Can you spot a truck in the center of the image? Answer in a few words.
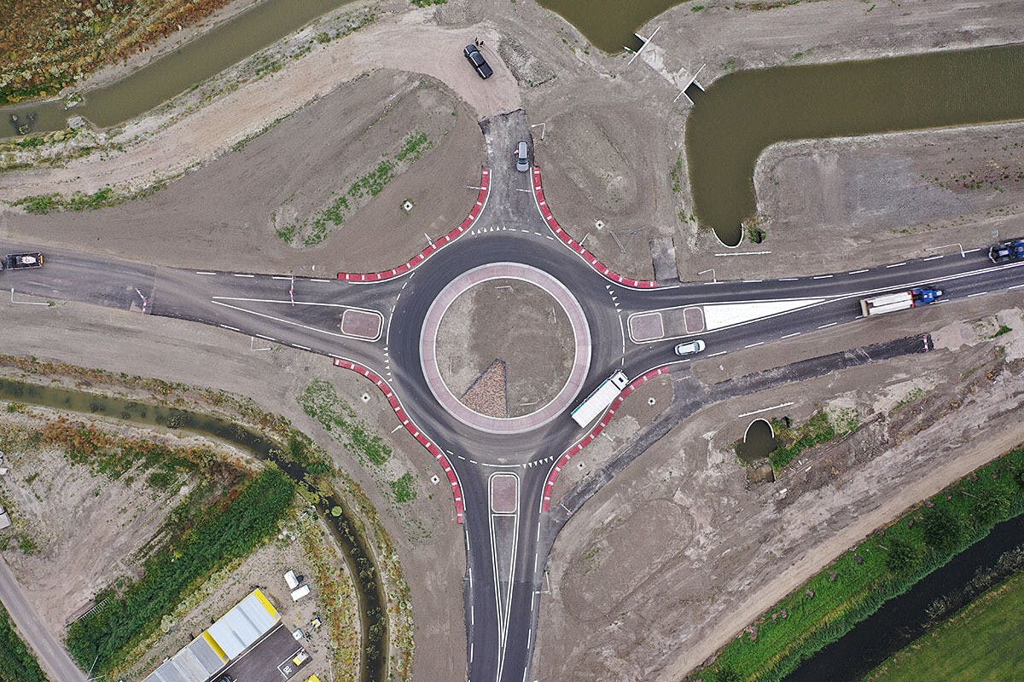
Yes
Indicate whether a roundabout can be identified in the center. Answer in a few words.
Yes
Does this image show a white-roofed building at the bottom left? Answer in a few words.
Yes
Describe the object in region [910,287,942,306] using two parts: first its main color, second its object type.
blue work vehicle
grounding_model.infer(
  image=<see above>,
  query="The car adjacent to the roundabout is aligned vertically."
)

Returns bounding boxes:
[516,142,529,171]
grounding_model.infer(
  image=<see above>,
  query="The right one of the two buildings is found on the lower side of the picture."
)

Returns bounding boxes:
[207,588,282,660]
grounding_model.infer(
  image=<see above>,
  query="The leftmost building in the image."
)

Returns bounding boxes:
[144,628,230,682]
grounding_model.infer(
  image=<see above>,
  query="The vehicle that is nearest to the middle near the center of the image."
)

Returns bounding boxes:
[569,368,630,429]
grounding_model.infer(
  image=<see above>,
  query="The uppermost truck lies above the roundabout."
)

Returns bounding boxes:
[466,43,493,80]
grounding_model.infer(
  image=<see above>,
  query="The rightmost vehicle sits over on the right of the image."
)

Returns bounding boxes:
[988,242,1024,265]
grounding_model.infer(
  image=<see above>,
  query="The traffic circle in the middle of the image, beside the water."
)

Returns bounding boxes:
[328,167,690,523]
